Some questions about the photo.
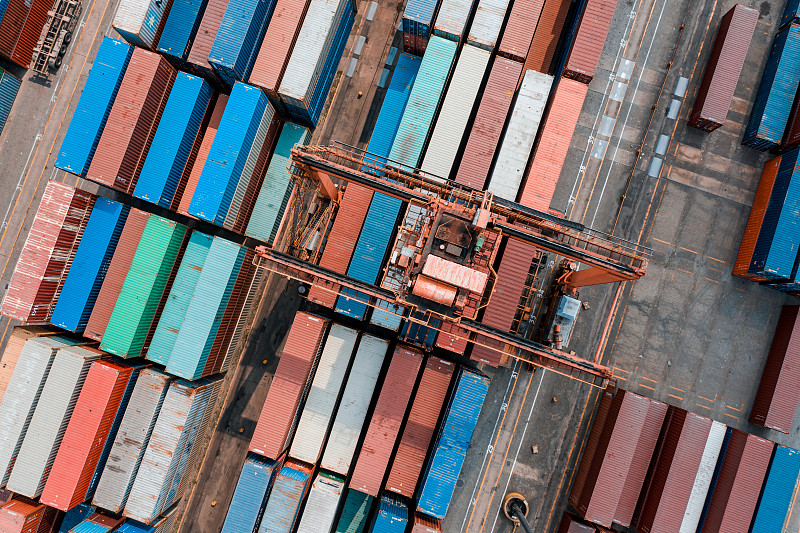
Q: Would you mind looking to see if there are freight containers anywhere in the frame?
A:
Yes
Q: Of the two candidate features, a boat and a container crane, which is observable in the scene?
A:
container crane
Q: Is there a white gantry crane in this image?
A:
No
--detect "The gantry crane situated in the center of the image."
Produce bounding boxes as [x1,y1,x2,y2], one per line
[249,139,654,389]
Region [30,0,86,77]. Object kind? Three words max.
trailer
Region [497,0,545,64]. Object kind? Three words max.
shipping container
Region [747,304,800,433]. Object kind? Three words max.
shipping container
